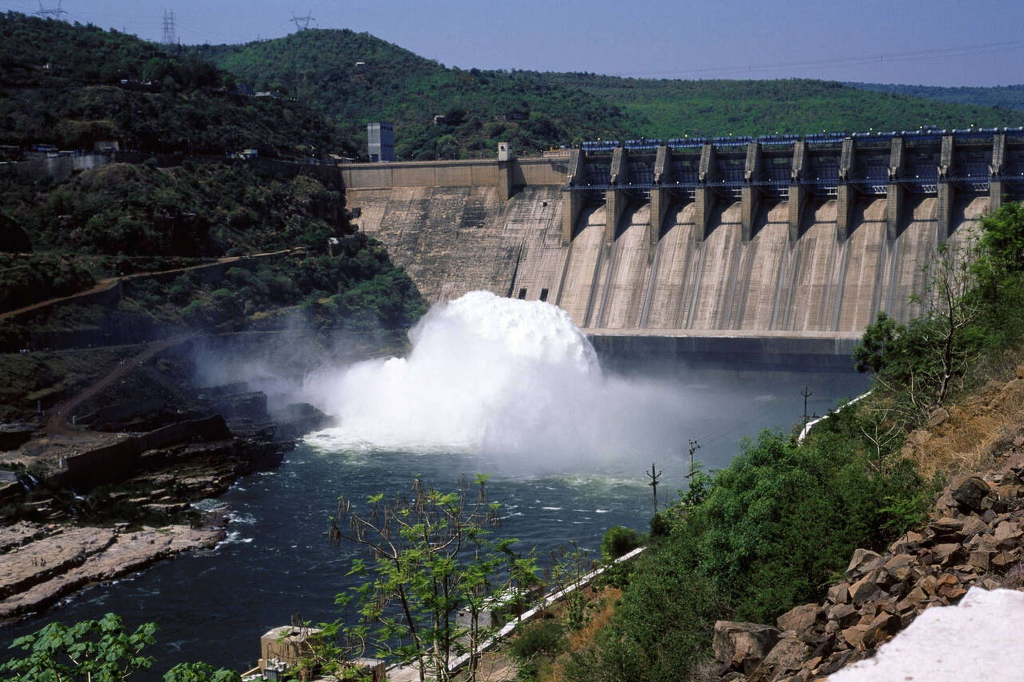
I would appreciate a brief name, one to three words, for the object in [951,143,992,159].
bridge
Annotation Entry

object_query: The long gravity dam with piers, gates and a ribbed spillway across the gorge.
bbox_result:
[334,124,1024,363]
